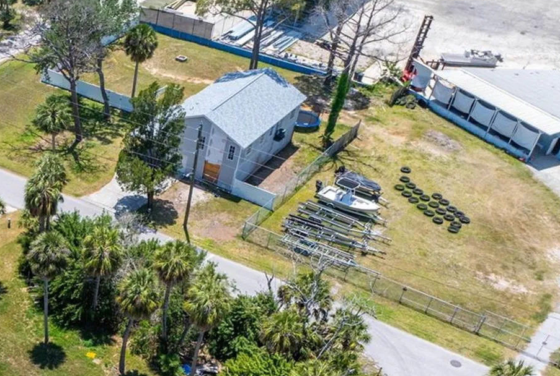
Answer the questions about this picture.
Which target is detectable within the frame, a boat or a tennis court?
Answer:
boat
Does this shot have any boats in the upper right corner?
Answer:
Yes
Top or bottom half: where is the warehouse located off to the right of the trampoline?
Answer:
top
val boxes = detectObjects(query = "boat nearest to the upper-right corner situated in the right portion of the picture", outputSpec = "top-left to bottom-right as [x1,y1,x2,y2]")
[440,50,504,67]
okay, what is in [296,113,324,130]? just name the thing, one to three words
trampoline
